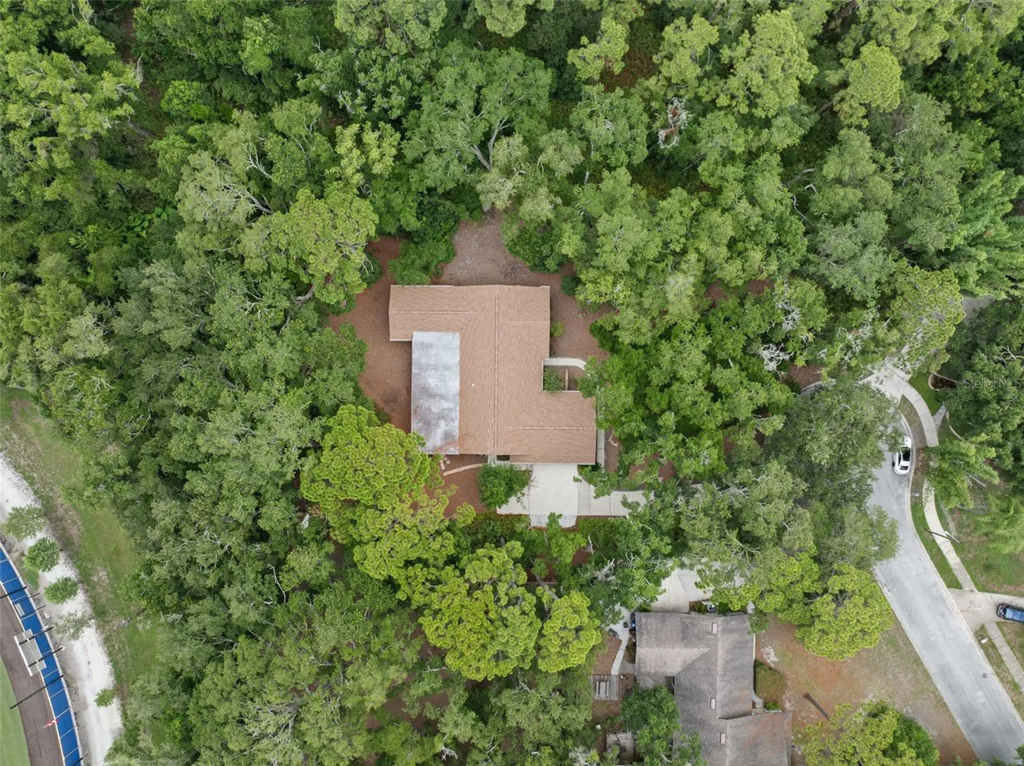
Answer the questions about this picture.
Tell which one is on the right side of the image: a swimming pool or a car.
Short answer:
car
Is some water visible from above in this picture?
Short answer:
No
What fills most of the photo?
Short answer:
trees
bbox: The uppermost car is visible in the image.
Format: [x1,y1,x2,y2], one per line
[894,435,917,475]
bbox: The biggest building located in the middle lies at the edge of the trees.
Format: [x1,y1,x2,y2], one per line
[388,283,598,464]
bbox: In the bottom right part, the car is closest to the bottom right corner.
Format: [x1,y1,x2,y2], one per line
[999,603,1024,625]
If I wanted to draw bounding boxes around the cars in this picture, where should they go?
[894,435,917,475]
[999,603,1024,625]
